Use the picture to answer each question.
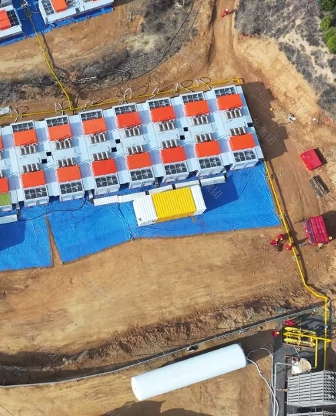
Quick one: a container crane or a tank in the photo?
tank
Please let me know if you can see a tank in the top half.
No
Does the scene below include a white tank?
Yes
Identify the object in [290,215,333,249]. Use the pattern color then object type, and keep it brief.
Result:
red trailer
